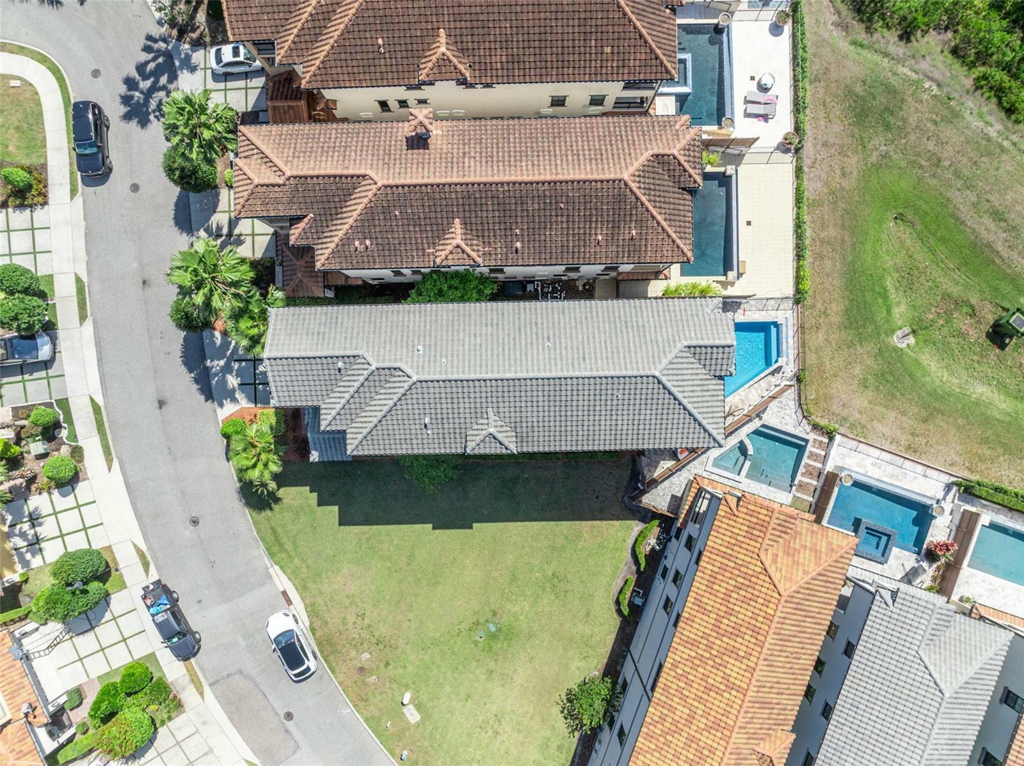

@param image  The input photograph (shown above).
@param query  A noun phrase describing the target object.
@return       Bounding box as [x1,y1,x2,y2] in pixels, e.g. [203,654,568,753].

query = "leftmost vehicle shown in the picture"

[0,330,53,366]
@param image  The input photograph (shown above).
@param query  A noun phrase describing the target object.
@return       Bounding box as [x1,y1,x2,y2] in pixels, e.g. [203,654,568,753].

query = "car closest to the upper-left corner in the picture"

[67,95,114,180]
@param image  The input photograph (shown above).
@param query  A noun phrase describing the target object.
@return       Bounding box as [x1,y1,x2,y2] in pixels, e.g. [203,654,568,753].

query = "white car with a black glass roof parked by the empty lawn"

[264,608,321,687]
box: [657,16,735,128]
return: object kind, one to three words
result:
swimming pool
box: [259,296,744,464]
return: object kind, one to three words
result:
house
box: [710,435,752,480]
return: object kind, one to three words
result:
swimming pool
